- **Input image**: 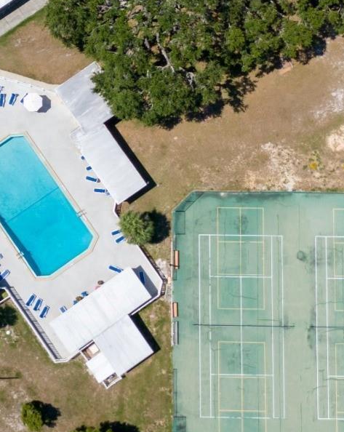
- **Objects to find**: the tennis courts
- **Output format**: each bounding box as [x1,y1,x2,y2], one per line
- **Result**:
[173,191,302,432]
[300,192,344,432]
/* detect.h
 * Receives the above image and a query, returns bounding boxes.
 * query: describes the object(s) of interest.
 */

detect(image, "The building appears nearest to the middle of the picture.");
[75,124,148,205]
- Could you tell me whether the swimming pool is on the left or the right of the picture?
left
